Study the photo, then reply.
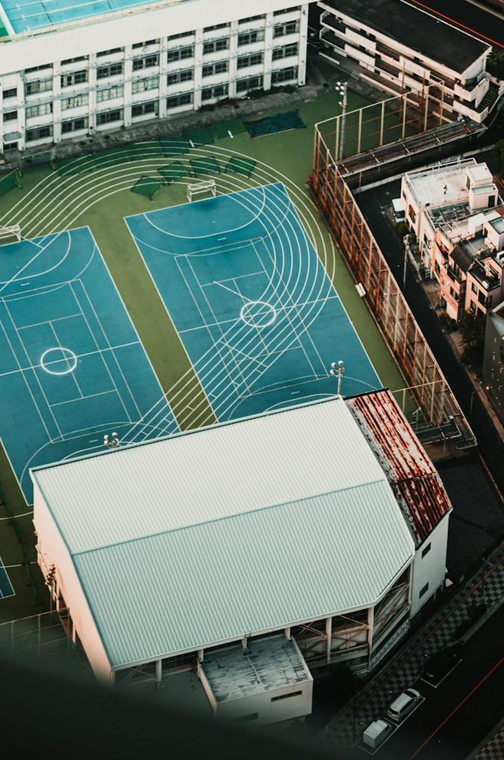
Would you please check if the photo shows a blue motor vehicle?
No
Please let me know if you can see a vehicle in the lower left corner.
No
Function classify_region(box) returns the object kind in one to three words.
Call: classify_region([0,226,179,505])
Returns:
sports court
